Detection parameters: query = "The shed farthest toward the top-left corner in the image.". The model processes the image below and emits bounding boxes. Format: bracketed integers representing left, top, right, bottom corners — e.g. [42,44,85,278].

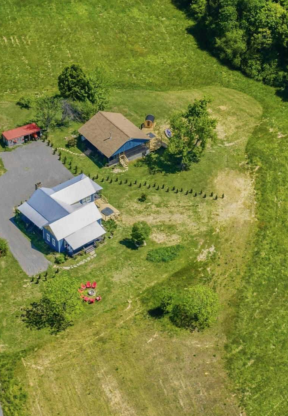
[2,122,41,147]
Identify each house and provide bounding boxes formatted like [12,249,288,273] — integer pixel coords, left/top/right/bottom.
[19,173,126,256]
[78,112,152,166]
